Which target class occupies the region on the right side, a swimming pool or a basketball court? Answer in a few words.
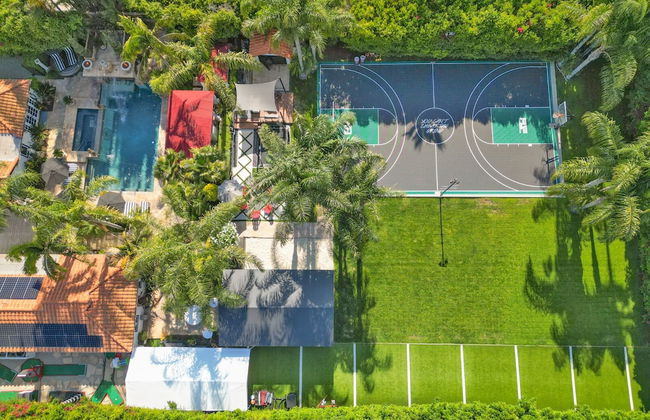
basketball court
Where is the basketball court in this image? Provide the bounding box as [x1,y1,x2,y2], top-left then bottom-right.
[317,62,567,198]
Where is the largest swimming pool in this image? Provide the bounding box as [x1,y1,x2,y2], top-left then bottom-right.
[81,81,164,194]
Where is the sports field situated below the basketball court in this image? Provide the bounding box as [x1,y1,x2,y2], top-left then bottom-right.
[249,346,650,407]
